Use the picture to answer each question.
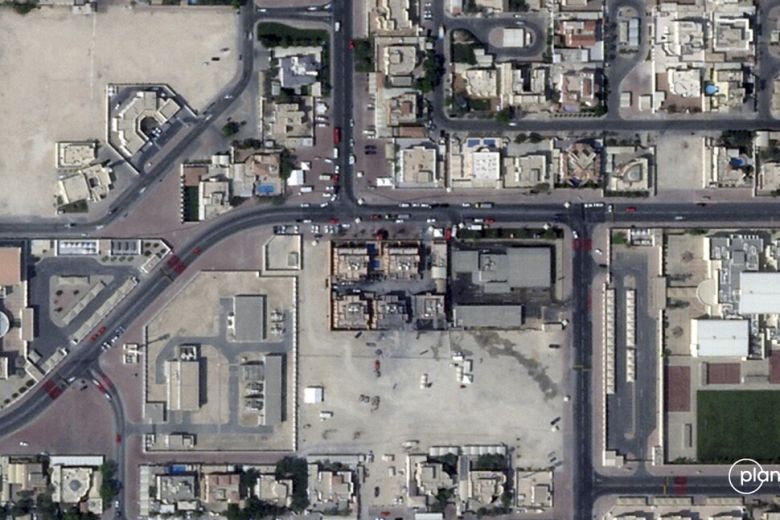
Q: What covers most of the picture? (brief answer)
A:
paved ground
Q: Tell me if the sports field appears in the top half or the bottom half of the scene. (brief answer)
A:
bottom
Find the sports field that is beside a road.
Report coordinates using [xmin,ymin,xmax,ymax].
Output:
[697,391,780,462]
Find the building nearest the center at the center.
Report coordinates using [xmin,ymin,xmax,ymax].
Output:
[382,247,419,278]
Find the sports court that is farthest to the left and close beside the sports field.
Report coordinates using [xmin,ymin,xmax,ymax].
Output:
[668,366,690,411]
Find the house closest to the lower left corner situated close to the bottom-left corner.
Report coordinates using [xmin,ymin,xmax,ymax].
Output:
[1,455,46,502]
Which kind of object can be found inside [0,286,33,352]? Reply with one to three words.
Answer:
building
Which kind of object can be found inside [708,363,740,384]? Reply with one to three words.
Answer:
sports court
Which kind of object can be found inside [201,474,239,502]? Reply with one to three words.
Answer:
house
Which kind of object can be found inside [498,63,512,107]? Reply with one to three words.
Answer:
house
